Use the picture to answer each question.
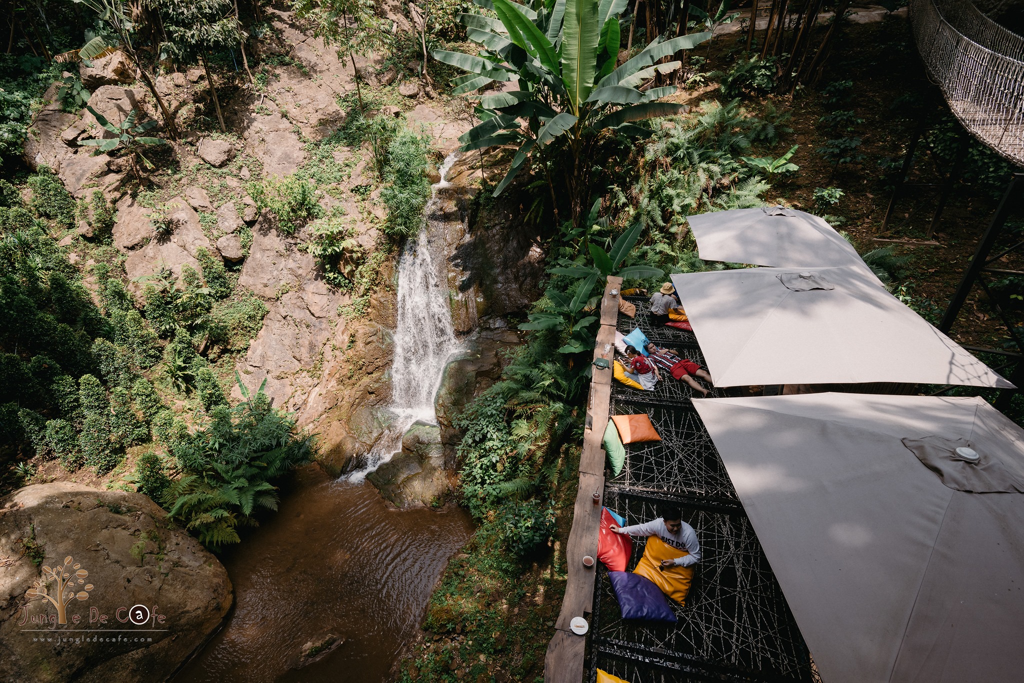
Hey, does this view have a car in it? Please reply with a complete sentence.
No, there isn't any car down there.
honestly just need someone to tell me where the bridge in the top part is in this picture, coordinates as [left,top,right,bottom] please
[907,0,1024,209]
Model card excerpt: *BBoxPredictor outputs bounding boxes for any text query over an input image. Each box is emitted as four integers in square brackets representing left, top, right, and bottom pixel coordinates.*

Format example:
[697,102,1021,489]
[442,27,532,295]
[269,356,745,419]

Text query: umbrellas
[669,266,1017,398]
[685,202,895,284]
[690,396,1024,683]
